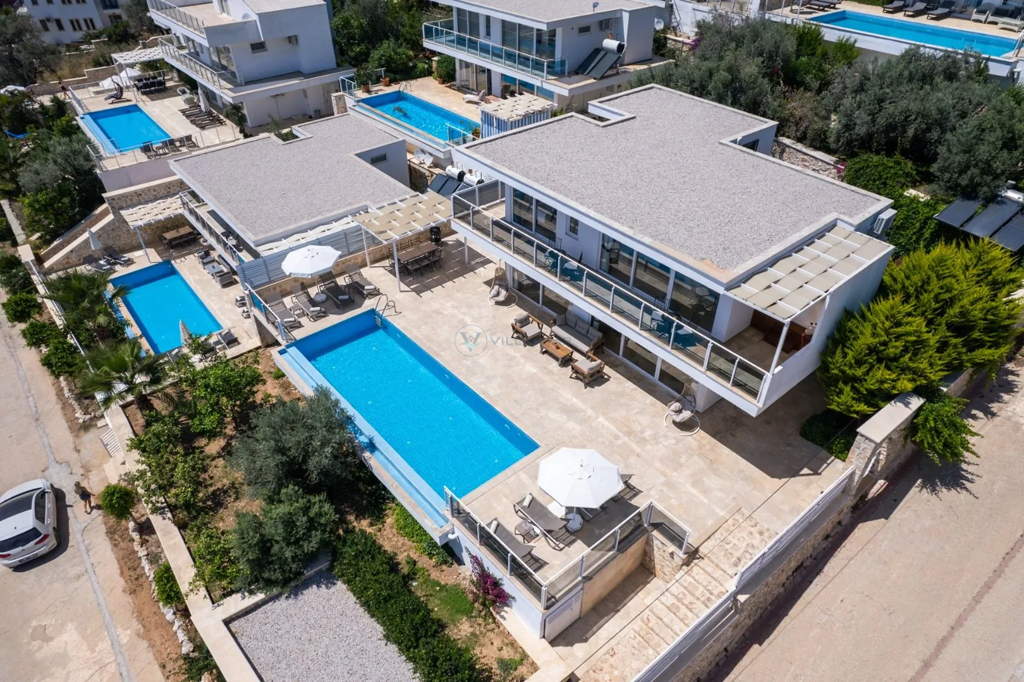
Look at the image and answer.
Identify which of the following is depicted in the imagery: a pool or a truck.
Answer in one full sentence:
There is a pool in the scene.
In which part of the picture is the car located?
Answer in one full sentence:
The car sits in the bottom left section of the image.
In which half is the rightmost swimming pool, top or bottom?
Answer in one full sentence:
You can find the rightmost swimming pool in the top half.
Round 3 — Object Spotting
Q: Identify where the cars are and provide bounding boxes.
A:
[0,476,60,565]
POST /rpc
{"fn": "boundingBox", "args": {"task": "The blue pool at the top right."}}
[817,10,1018,55]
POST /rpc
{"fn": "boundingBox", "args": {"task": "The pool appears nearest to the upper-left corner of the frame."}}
[77,105,175,153]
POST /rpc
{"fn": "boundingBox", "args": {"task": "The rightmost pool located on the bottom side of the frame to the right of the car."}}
[269,309,540,548]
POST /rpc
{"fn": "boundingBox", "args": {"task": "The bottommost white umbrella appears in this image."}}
[536,442,624,530]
